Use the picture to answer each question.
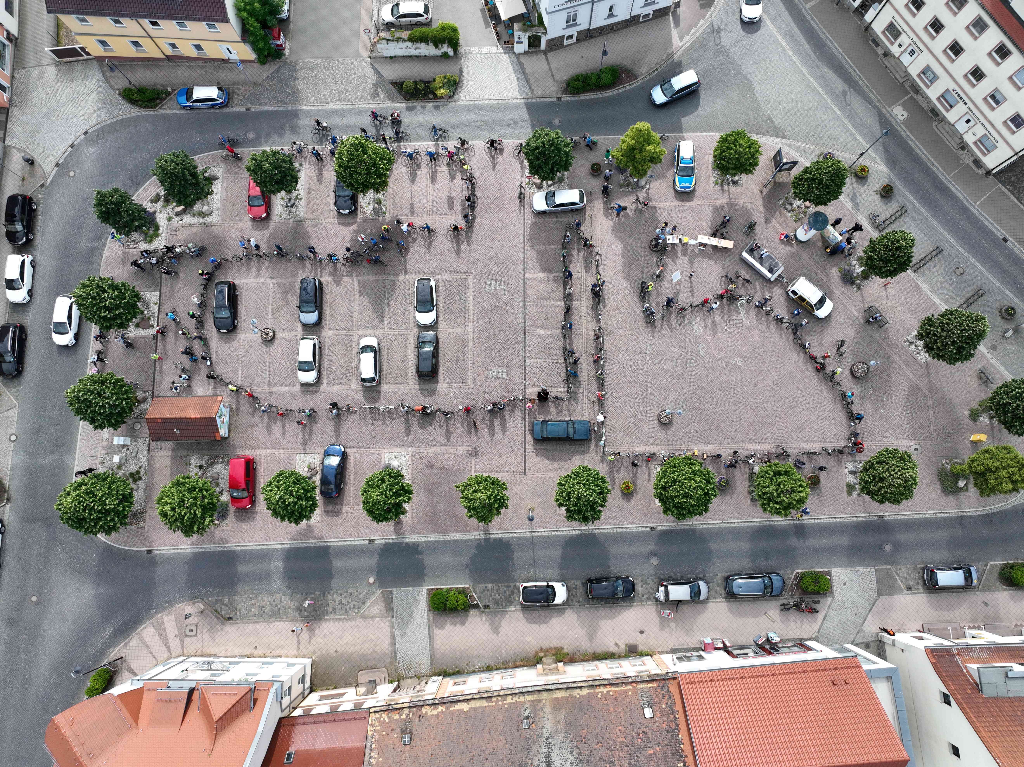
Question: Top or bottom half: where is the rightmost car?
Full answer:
Seen from above, the rightmost car lies in the bottom half of the view.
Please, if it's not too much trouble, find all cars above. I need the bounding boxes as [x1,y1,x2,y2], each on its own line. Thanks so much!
[1,195,37,246]
[0,324,31,376]
[6,255,39,304]
[533,417,591,442]
[226,456,255,508]
[649,71,704,109]
[243,169,270,219]
[177,86,230,113]
[294,337,321,384]
[673,140,699,192]
[724,571,785,600]
[740,0,763,21]
[520,581,567,606]
[786,276,833,318]
[331,160,357,214]
[355,337,382,386]
[296,278,323,325]
[413,277,437,326]
[415,332,439,379]
[210,282,238,332]
[532,188,586,215]
[586,575,635,601]
[320,444,346,497]
[50,295,81,345]
[655,578,709,613]
[381,1,431,26]
[922,566,978,592]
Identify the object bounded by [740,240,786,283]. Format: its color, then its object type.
gray trailer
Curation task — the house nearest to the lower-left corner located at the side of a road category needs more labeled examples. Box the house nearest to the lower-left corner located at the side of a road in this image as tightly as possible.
[39,647,313,767]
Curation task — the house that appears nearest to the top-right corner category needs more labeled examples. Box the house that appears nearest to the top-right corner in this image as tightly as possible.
[866,0,1024,173]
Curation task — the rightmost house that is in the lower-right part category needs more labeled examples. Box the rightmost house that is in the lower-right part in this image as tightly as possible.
[880,610,1024,767]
